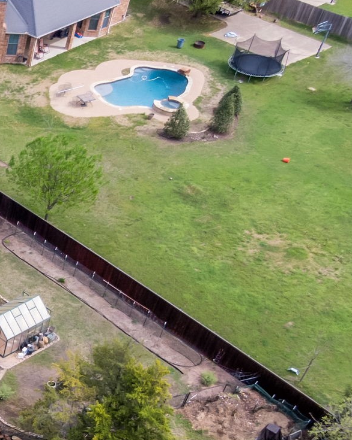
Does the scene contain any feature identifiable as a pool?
Yes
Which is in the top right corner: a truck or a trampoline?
trampoline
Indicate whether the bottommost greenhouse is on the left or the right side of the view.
left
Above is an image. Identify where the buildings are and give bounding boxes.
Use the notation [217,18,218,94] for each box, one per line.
[0,290,59,357]
[0,0,127,67]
